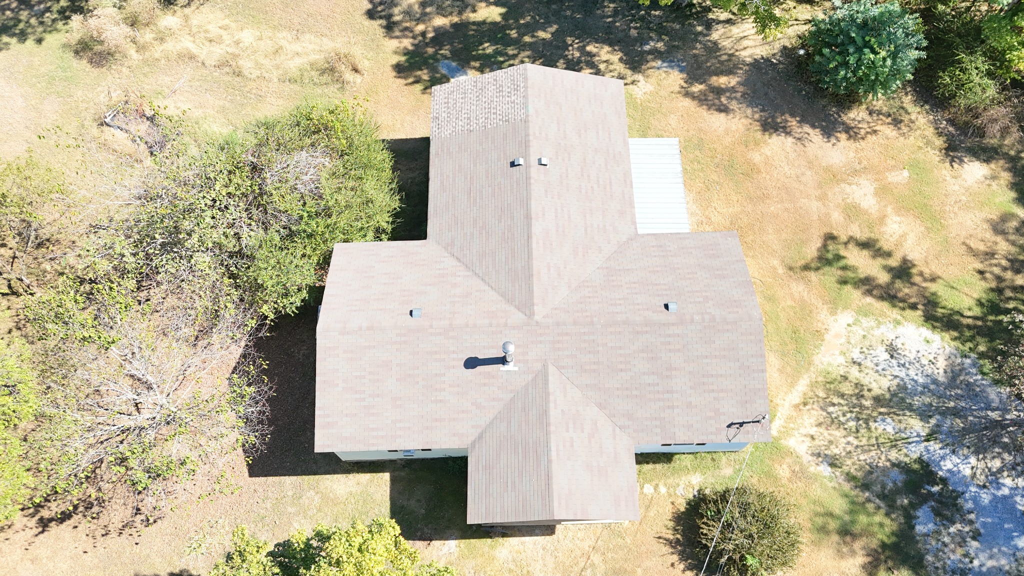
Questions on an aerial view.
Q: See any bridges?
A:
No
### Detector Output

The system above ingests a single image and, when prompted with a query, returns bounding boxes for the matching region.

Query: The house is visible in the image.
[314,64,772,527]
